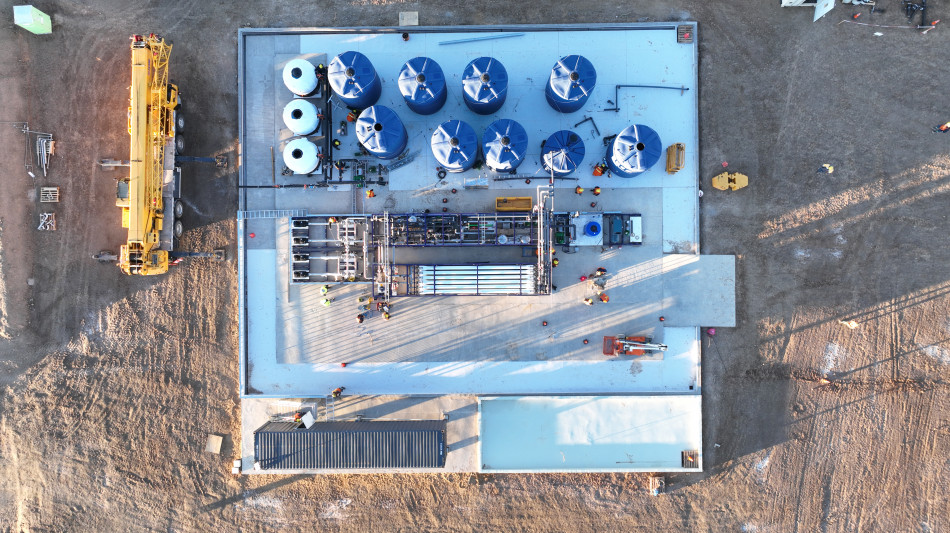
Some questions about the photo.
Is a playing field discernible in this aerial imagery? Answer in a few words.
No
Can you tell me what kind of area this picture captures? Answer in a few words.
industrial area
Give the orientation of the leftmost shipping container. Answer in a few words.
horizontally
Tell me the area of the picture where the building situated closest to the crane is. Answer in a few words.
top left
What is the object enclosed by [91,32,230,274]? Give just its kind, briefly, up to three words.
crane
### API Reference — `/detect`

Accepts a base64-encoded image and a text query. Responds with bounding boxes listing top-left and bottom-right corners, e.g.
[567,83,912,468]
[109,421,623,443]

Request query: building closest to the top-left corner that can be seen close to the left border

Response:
[13,6,51,35]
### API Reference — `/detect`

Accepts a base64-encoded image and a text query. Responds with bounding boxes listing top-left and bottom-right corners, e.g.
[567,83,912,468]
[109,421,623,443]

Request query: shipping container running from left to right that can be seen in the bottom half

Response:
[254,411,453,470]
